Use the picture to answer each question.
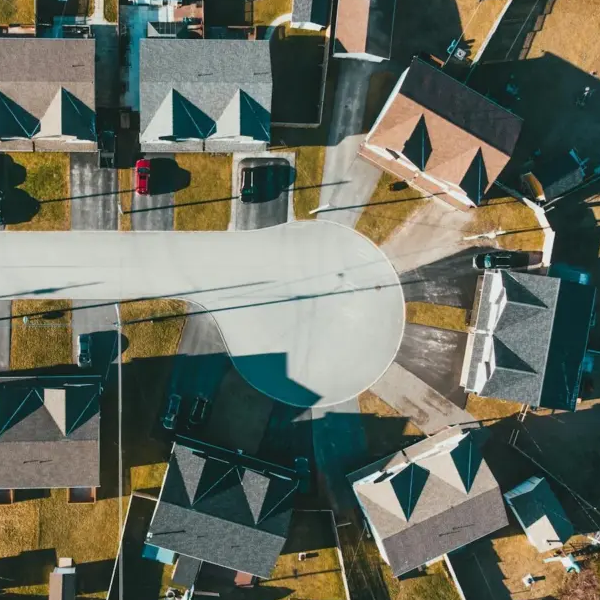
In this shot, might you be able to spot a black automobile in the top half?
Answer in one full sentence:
Yes, the scene does show a black automobile in the top half.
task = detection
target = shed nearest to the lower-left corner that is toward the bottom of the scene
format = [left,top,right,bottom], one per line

[49,569,76,600]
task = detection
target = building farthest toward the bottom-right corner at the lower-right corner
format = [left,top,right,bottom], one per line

[511,473,576,550]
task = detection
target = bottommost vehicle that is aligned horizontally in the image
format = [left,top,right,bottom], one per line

[473,251,516,270]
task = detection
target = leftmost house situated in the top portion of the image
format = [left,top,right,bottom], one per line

[0,38,101,153]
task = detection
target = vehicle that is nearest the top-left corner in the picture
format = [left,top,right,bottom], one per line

[99,127,116,169]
